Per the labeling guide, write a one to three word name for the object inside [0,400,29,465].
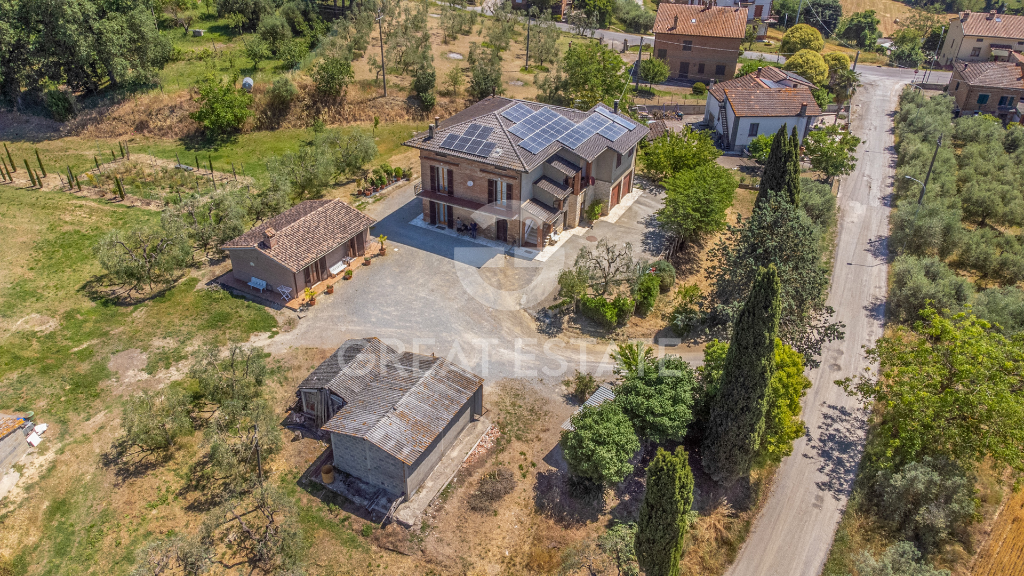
shed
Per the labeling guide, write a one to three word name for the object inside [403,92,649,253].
house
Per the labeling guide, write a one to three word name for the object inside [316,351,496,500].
barn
